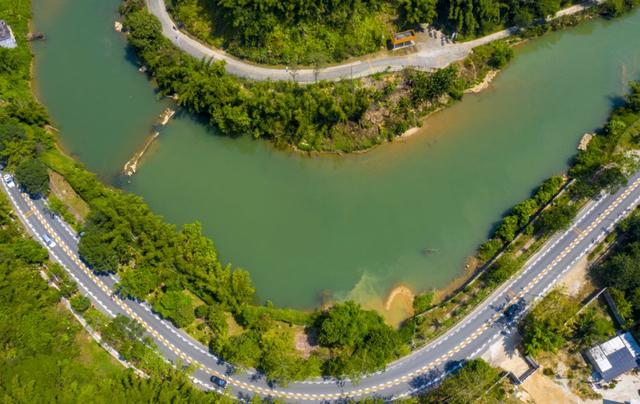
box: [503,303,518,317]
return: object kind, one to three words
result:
vehicle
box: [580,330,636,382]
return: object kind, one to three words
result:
house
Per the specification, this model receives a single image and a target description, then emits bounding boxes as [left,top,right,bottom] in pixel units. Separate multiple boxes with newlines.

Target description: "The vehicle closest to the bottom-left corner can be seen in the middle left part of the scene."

[42,235,56,250]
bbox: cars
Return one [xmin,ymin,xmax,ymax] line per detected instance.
[209,376,226,387]
[503,303,518,317]
[3,173,14,188]
[42,235,56,250]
